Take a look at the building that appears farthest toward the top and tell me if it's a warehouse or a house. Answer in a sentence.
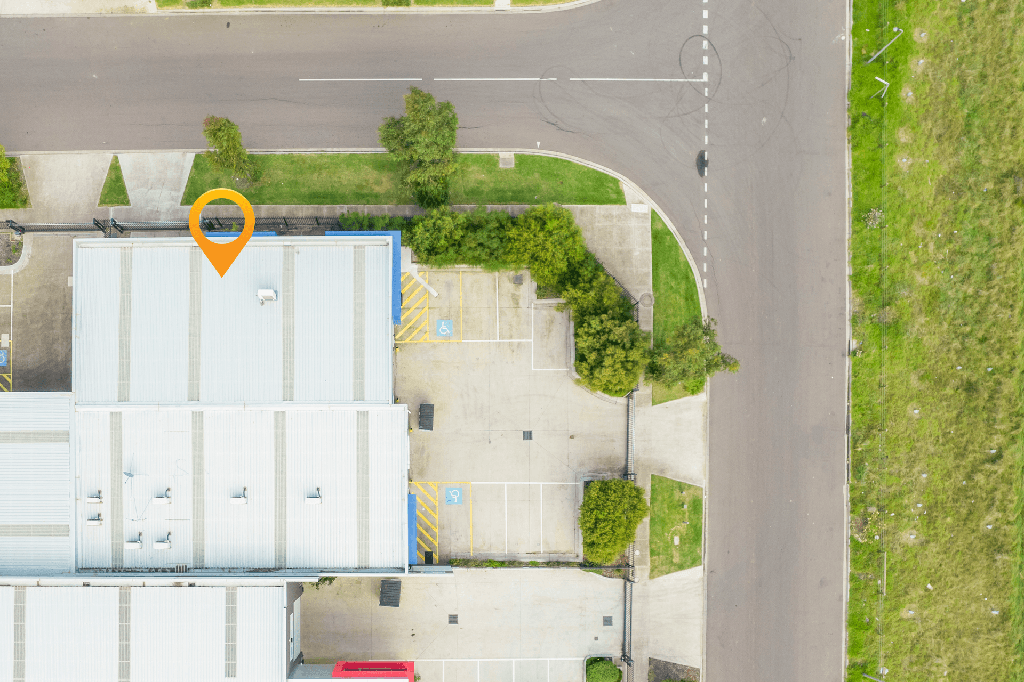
I'd say the building that appears farthest toward the top is a warehouse.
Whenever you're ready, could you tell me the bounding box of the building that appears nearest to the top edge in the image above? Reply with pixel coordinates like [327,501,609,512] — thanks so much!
[73,231,403,406]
